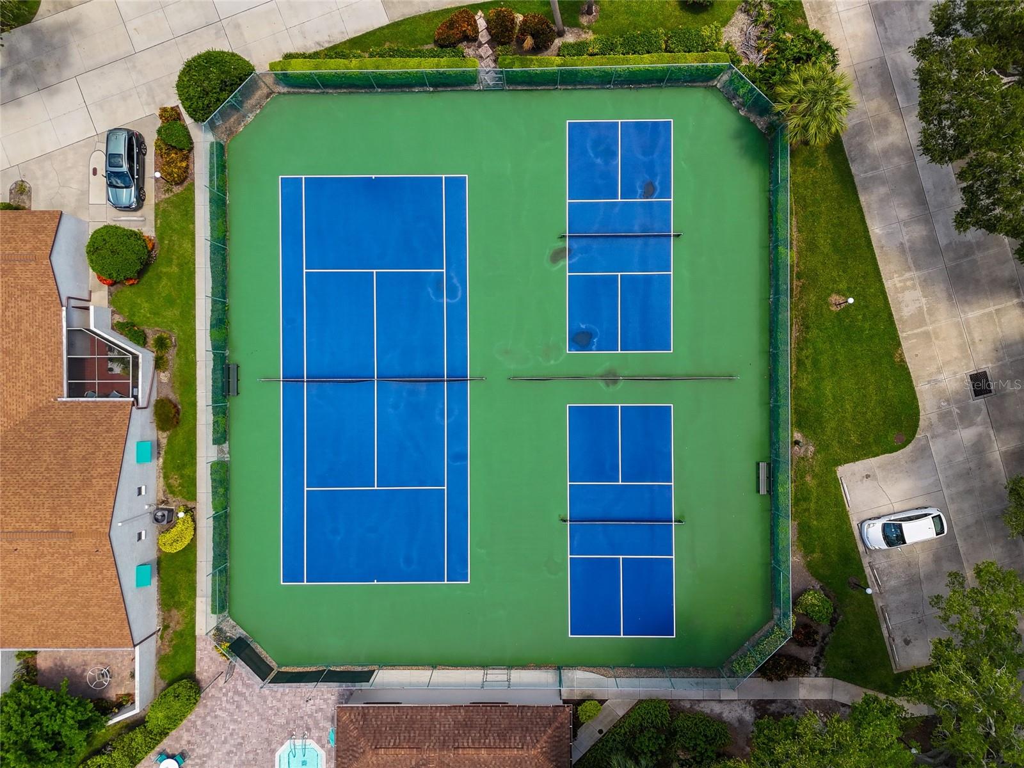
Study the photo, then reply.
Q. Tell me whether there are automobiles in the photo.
Yes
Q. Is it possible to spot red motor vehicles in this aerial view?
No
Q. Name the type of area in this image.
sports ground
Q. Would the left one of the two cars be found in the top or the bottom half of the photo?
top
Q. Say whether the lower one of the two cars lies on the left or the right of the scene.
right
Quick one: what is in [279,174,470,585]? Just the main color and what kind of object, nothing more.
blue tennis court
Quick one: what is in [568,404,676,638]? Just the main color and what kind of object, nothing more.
blue sports court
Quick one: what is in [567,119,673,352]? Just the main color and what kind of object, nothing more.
blue sports court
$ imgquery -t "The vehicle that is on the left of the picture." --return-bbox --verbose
[97,127,144,211]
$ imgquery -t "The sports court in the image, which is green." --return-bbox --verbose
[227,86,771,667]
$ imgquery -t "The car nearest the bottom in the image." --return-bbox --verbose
[861,505,948,552]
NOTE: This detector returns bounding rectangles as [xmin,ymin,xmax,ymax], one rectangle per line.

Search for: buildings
[333,687,574,768]
[0,211,160,648]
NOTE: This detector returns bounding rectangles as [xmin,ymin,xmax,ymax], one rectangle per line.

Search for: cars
[861,505,948,552]
[97,127,144,211]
